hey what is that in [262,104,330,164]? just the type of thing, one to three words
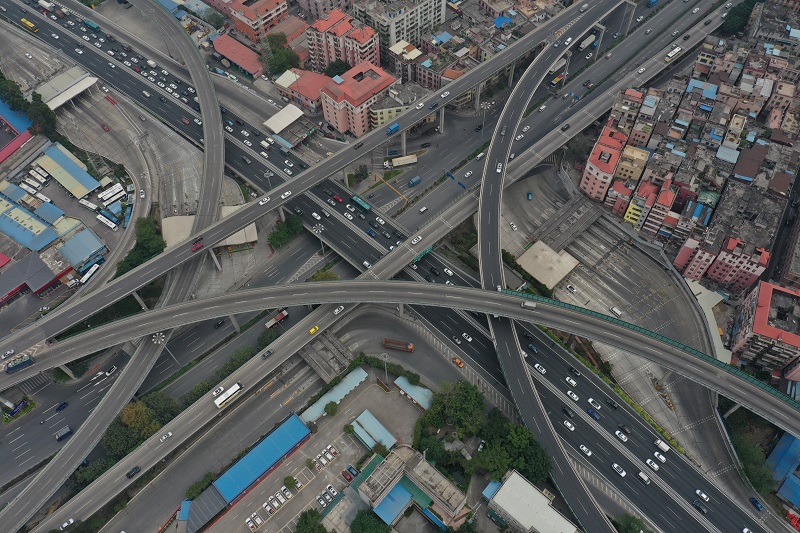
toll station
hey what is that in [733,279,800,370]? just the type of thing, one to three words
building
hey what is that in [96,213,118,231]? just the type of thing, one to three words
vehicle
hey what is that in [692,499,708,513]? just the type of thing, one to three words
car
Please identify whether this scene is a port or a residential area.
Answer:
residential area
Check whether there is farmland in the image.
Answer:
No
